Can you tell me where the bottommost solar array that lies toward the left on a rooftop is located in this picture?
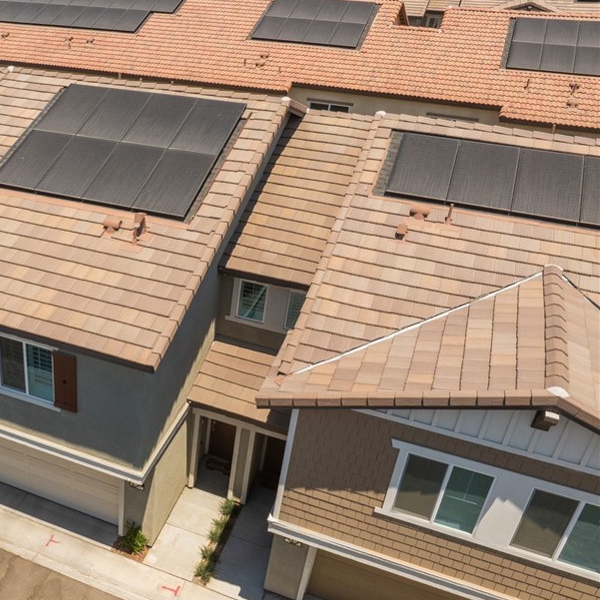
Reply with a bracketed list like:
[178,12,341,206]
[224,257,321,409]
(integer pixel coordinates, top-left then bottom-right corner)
[0,86,244,222]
